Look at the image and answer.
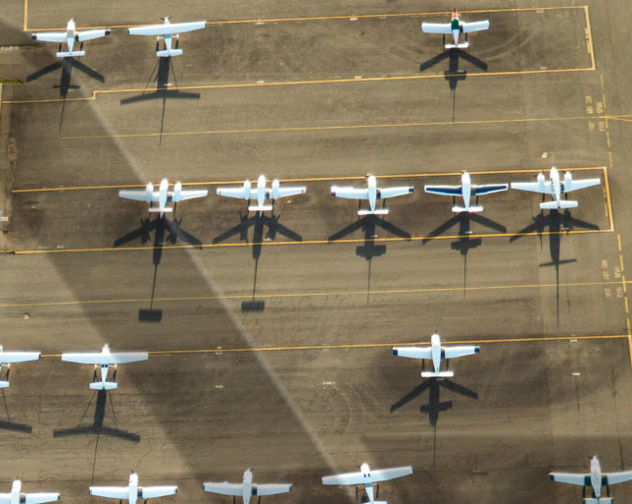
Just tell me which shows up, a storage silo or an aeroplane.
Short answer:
aeroplane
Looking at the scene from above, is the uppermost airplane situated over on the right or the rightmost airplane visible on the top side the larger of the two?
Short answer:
the rightmost airplane visible on the top side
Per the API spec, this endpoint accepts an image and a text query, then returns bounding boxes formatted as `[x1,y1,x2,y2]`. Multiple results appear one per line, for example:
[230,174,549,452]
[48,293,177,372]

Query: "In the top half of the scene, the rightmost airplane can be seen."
[511,166,601,210]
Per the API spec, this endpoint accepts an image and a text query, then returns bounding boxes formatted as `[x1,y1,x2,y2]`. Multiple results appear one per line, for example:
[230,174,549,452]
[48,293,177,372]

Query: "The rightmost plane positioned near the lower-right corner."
[550,454,632,504]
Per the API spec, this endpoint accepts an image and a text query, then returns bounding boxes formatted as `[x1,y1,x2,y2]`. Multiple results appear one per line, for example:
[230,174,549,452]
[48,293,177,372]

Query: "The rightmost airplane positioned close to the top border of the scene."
[421,12,489,46]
